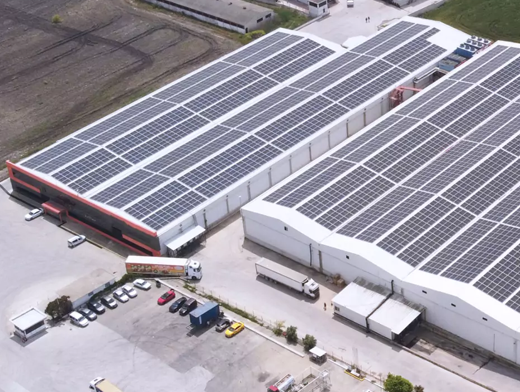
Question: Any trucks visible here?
Yes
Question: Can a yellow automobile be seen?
Yes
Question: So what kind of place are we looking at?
industrial area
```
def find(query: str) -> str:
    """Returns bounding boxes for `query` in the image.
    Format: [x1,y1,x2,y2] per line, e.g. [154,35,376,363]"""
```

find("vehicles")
[178,295,198,314]
[120,258,204,280]
[23,206,43,220]
[122,282,139,296]
[84,375,123,392]
[101,293,120,307]
[65,233,87,246]
[78,306,98,320]
[252,254,323,301]
[168,295,188,311]
[68,306,88,324]
[264,362,298,392]
[214,313,233,330]
[223,320,246,336]
[130,278,153,289]
[156,287,175,303]
[86,299,107,312]
[112,287,130,302]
